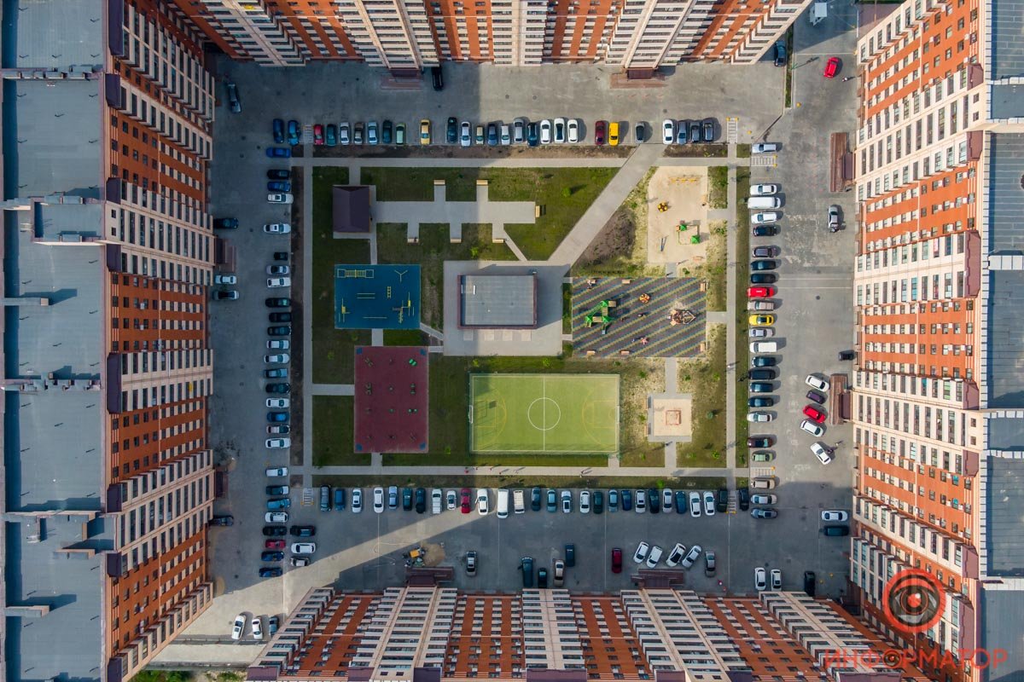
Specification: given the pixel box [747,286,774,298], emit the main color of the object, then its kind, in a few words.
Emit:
red vehicle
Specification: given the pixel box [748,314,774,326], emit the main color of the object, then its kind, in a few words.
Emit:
yellow vehicle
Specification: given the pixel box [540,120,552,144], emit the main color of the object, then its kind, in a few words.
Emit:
white vehicle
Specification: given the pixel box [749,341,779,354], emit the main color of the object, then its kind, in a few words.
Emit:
white vehicle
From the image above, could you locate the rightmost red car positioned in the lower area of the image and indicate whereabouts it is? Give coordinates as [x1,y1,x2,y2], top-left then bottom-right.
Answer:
[801,405,827,422]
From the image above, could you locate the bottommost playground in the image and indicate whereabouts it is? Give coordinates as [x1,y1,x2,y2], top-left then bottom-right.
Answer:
[648,393,692,442]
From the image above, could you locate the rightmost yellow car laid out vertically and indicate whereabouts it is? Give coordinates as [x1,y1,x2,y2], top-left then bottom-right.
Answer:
[608,122,620,147]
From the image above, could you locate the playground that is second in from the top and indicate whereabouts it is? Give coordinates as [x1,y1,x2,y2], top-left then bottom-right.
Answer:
[573,277,707,357]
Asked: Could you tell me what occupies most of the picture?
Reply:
buildings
